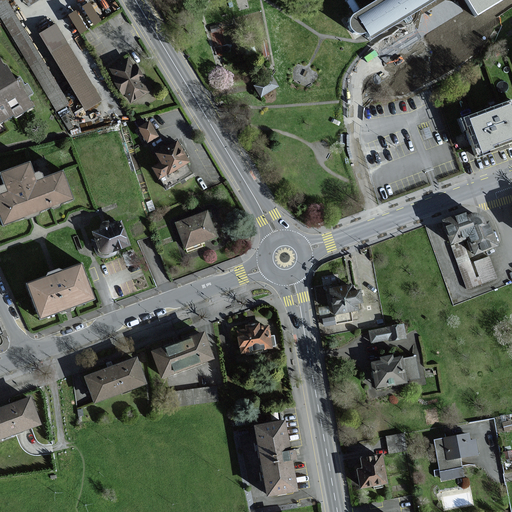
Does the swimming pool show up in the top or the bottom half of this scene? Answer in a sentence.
It is in the bottom half that the swimming pool appears.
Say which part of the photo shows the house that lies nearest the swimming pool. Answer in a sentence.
The house that lies nearest the swimming pool sits in the bottom right section of the image.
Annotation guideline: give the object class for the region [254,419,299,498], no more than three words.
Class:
house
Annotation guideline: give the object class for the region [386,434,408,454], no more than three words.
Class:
building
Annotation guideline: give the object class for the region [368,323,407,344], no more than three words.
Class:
building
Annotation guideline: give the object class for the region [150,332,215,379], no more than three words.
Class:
house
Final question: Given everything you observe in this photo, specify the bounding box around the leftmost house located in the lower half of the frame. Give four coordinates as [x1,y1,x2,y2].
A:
[0,396,42,440]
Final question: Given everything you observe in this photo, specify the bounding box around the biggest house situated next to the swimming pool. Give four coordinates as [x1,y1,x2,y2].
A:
[434,433,479,482]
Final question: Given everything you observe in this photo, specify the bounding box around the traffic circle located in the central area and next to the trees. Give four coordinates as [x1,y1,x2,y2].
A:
[257,229,313,285]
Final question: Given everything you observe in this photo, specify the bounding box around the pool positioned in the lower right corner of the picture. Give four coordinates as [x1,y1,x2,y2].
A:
[441,492,474,511]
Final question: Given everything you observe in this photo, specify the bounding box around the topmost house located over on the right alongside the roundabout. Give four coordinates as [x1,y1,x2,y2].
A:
[319,274,364,326]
